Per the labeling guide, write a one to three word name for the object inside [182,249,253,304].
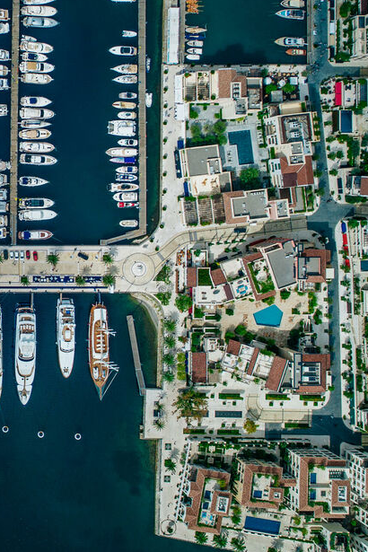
house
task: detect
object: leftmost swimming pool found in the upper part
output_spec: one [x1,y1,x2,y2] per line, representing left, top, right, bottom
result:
[226,128,255,166]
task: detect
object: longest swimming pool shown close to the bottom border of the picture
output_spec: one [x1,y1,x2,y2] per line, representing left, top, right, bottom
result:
[243,514,282,536]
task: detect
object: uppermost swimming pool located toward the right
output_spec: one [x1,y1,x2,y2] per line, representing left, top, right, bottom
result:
[340,109,353,134]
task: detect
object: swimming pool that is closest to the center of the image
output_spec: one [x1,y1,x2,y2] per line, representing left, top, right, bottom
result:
[252,304,285,328]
